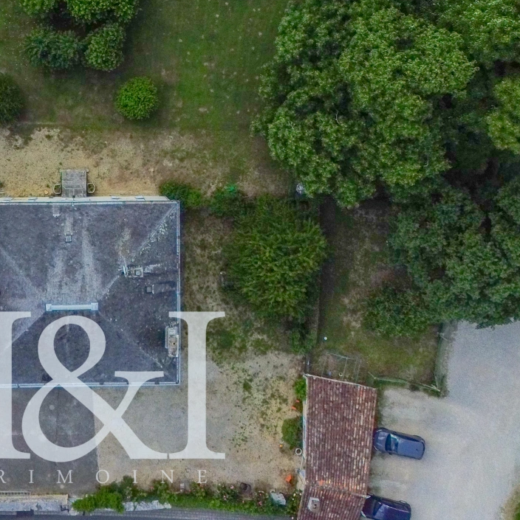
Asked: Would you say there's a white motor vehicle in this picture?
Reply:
No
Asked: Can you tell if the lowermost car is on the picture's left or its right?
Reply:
right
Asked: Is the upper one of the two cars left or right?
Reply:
right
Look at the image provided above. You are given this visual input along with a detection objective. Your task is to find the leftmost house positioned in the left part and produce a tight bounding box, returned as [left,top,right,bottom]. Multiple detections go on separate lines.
[0,196,182,389]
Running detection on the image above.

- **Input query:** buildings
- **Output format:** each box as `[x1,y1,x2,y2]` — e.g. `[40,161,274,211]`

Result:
[0,196,182,389]
[287,370,377,520]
